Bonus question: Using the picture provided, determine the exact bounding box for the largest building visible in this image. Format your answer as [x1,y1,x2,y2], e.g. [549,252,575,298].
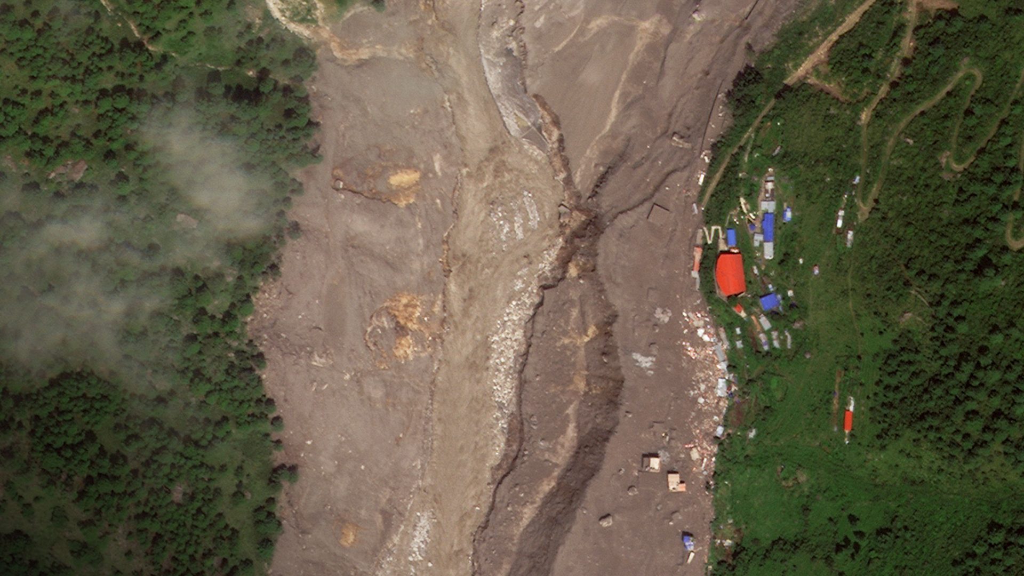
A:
[716,254,746,296]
